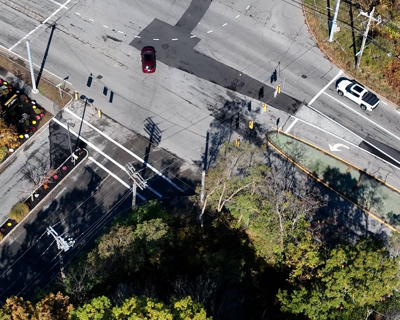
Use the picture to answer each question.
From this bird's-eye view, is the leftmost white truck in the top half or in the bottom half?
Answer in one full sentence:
Seen from above, the leftmost white truck lies in the top half of the view.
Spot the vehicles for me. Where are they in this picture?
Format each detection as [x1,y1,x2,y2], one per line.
[141,48,157,73]
[337,81,381,113]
